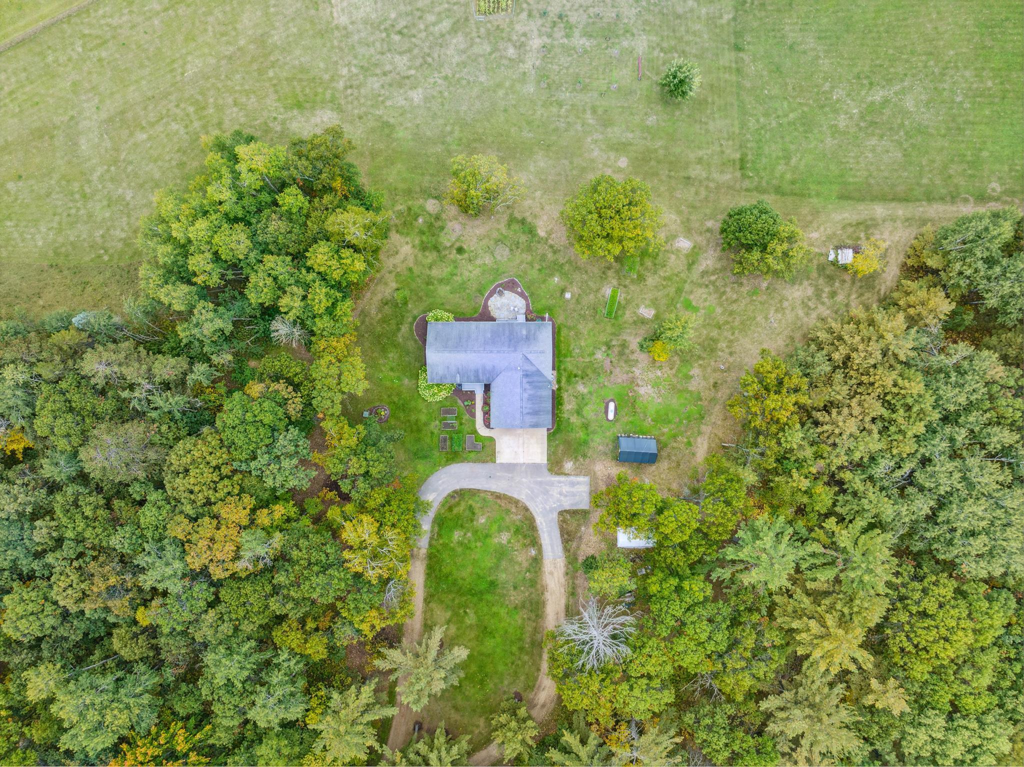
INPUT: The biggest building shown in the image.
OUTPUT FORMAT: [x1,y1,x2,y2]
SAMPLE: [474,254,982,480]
[425,313,555,430]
